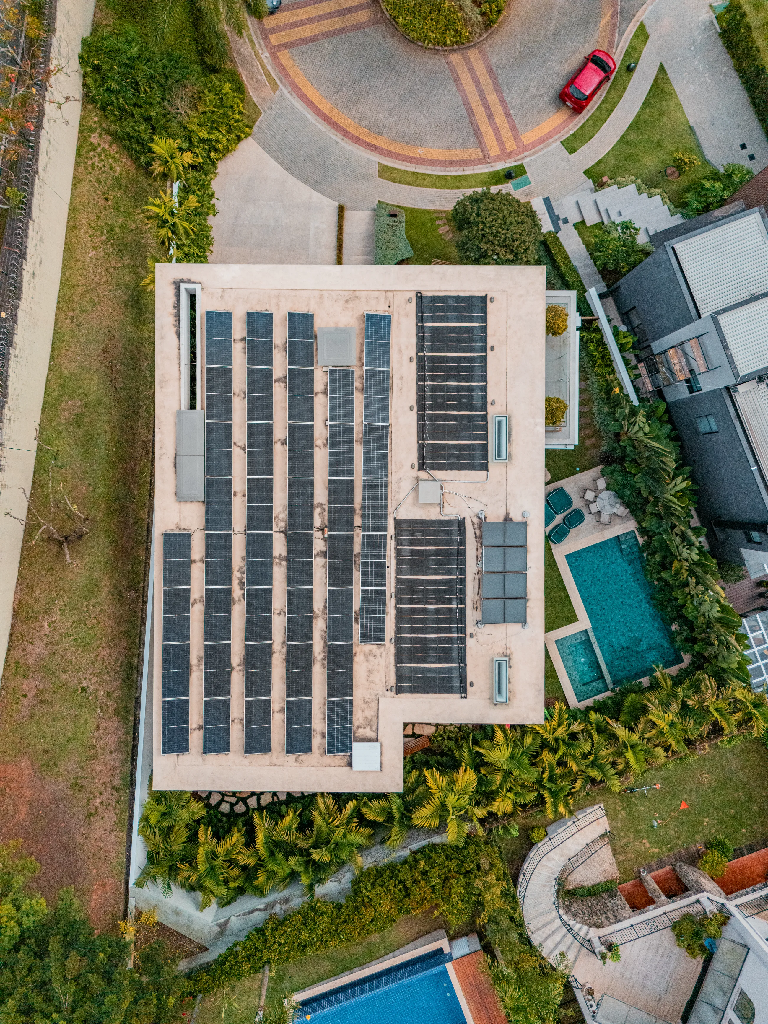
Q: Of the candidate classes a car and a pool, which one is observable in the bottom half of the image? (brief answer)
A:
pool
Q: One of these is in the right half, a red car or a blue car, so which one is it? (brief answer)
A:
red car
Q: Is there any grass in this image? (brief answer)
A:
Yes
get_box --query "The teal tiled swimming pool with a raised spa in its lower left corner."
[545,518,686,708]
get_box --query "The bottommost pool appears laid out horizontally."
[284,937,474,1024]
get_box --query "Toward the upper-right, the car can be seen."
[561,46,614,113]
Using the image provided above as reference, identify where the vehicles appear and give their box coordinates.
[561,46,614,113]
[257,0,286,16]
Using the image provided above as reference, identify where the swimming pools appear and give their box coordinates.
[545,518,686,708]
[284,937,474,1024]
